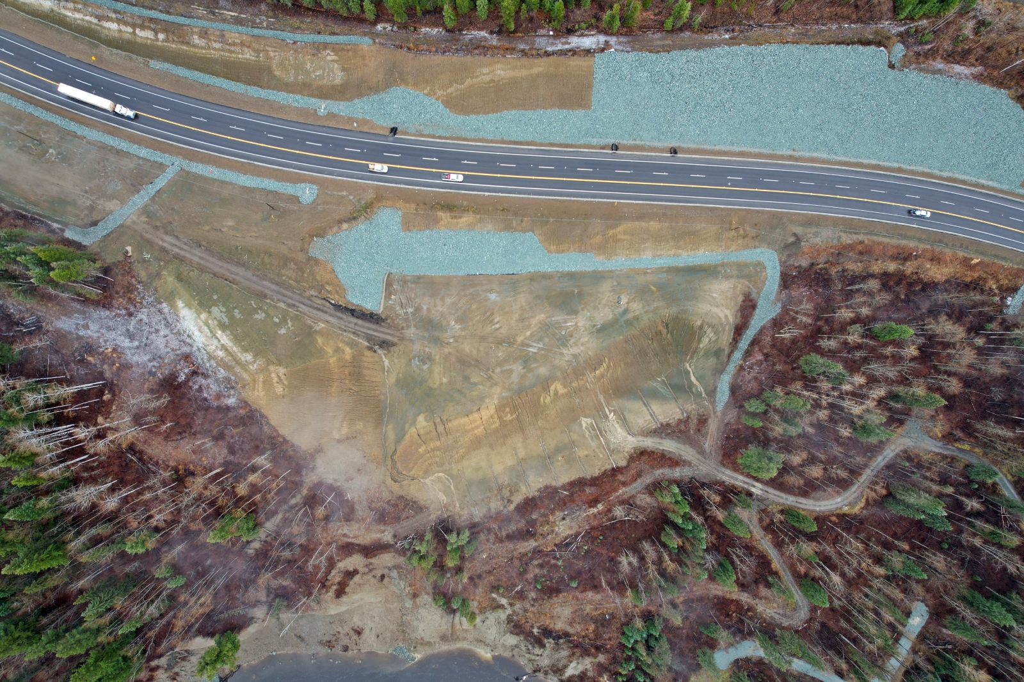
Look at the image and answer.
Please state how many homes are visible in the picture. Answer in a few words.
zero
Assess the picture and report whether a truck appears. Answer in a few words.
Yes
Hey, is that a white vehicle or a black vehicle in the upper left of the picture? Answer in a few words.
white vehicle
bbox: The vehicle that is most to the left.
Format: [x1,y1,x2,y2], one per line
[49,79,133,118]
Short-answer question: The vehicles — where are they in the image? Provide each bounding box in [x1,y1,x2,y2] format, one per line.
[441,172,462,181]
[910,207,932,217]
[366,162,388,172]
[49,79,133,118]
